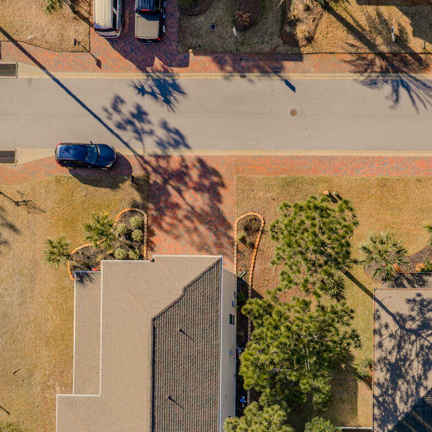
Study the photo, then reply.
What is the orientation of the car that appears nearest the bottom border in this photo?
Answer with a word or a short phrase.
from left to right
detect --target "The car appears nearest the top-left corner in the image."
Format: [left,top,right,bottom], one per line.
[93,0,124,38]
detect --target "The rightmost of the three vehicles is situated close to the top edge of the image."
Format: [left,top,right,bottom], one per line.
[135,0,165,42]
